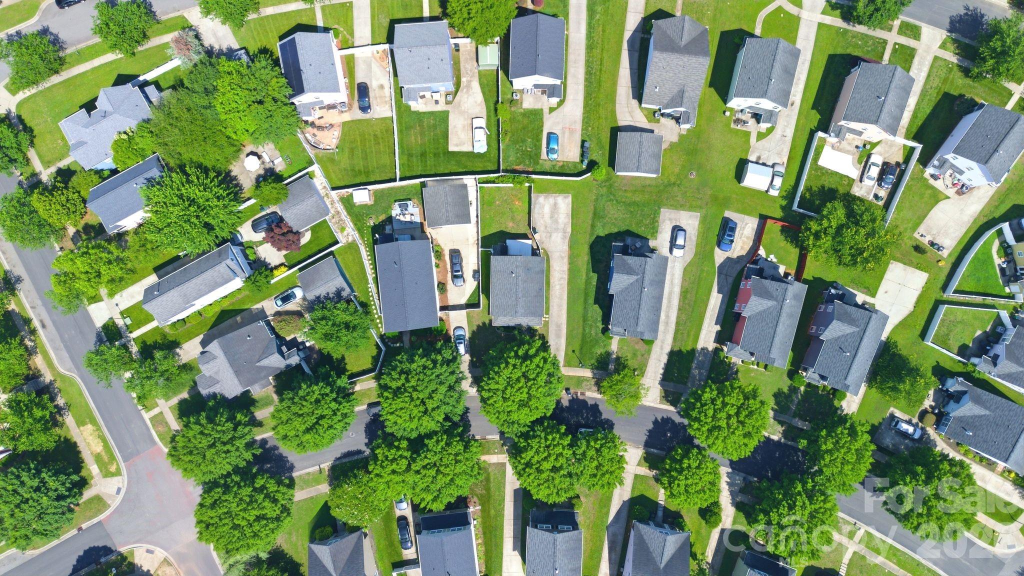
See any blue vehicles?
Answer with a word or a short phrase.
Yes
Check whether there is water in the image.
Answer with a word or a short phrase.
No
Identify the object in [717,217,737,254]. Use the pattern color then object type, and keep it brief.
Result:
blue vehicle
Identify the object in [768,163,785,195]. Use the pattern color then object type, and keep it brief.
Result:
white car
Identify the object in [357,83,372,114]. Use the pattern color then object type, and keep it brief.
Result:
blue car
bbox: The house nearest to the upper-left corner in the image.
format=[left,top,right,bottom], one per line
[60,77,163,170]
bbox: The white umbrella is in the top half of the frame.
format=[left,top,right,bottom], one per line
[245,155,261,172]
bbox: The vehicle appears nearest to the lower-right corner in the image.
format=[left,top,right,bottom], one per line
[889,417,922,439]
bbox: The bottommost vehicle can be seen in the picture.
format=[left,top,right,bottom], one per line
[397,517,413,549]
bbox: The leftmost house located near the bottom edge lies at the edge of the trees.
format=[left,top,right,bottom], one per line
[306,521,381,576]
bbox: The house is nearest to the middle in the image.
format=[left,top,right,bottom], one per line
[489,240,546,326]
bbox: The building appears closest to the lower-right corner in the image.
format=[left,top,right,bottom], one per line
[931,376,1024,468]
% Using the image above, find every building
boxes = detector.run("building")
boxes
[87,153,184,235]
[606,243,668,341]
[619,511,693,576]
[394,21,453,105]
[931,376,1024,468]
[60,77,163,170]
[275,174,332,232]
[525,506,584,576]
[422,184,472,228]
[353,189,372,204]
[823,61,915,143]
[924,100,1024,187]
[278,31,348,121]
[638,14,712,132]
[296,256,354,311]
[374,232,440,332]
[306,521,381,576]
[722,265,808,369]
[724,36,801,128]
[478,44,499,69]
[489,240,546,326]
[142,243,256,328]
[614,131,664,178]
[799,288,889,396]
[737,162,772,193]
[195,320,305,398]
[416,507,479,576]
[999,239,1024,295]
[509,14,566,102]
[733,545,796,576]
